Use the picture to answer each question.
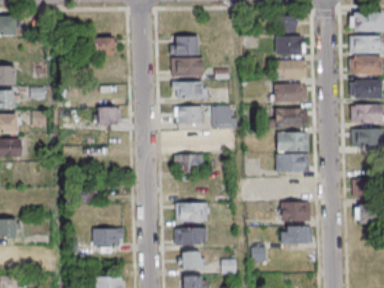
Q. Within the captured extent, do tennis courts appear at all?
No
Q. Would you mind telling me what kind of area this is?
residential area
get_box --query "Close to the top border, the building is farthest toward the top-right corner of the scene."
[350,14,384,32]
